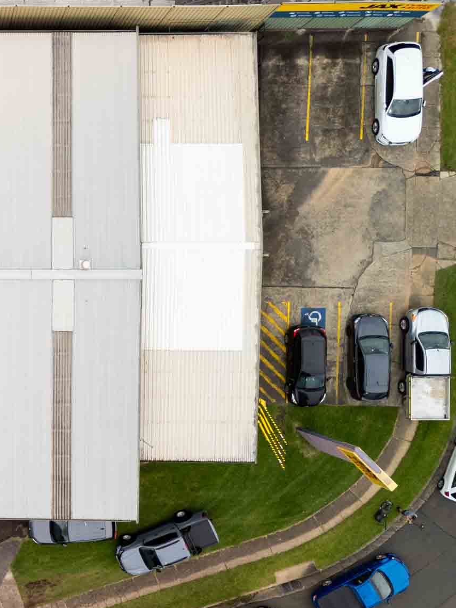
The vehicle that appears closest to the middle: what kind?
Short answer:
automobile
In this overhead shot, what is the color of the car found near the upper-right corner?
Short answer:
white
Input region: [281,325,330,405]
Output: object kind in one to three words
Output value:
car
